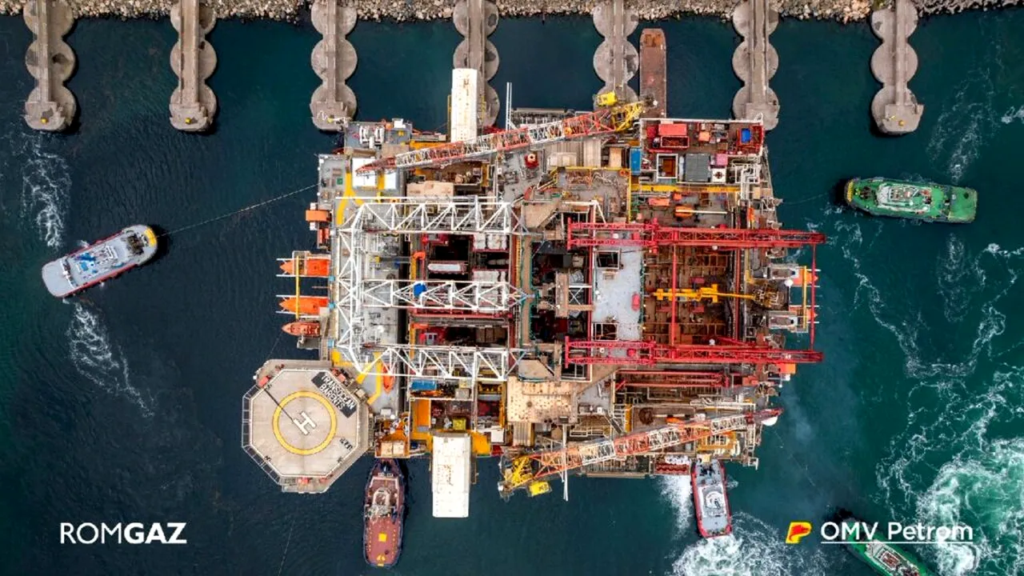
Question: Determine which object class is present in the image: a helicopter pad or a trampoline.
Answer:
helicopter pad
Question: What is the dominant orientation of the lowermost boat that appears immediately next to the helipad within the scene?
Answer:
vertically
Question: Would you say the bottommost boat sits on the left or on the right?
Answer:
right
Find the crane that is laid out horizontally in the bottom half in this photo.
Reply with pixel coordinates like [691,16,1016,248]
[497,407,784,499]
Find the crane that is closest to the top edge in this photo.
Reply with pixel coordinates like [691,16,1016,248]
[357,88,650,174]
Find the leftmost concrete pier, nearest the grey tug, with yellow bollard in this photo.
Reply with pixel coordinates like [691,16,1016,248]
[24,0,84,133]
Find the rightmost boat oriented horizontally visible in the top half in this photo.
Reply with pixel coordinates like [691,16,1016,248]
[846,175,979,228]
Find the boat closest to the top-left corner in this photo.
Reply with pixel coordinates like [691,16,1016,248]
[41,227,158,300]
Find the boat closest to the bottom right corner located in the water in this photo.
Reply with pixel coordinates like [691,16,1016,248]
[843,516,948,576]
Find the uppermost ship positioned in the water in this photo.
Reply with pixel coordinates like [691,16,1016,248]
[638,28,667,120]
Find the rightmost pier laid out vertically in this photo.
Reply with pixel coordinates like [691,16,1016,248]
[864,0,924,137]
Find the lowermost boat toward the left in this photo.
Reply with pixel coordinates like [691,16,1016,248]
[363,458,408,568]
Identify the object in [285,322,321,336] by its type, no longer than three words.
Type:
boat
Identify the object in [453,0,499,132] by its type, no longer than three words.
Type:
pier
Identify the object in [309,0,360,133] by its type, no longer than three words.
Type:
pier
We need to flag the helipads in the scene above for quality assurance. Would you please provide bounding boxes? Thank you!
[242,359,372,491]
